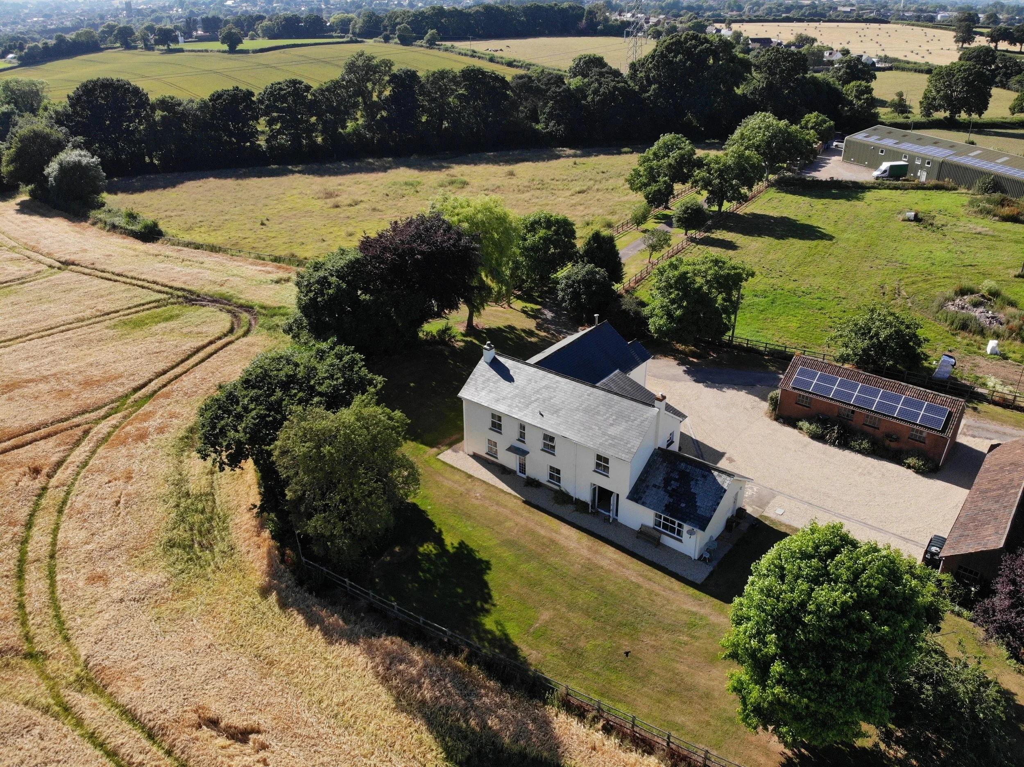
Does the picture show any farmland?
Yes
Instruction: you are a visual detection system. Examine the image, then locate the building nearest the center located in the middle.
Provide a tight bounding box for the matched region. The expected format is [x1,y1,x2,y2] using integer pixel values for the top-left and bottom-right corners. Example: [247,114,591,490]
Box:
[458,309,751,558]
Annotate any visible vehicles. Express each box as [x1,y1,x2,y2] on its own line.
[828,141,844,152]
[906,512,957,570]
[872,160,919,182]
